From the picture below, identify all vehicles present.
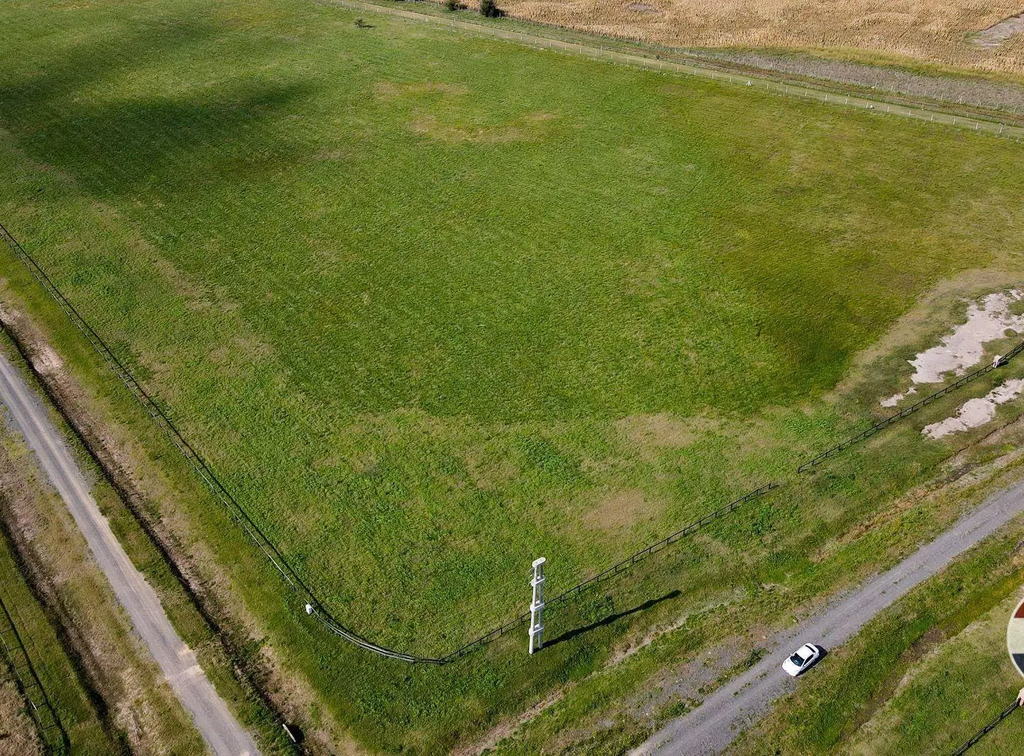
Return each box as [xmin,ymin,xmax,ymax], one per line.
[783,640,825,681]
